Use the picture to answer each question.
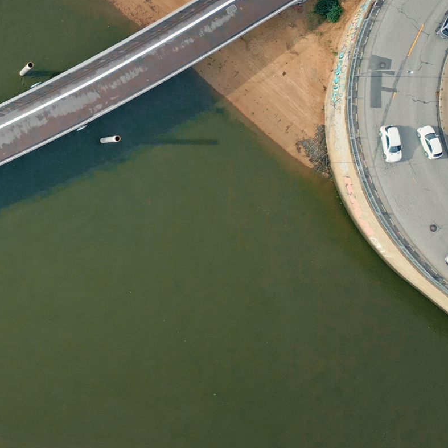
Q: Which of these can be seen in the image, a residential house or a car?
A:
car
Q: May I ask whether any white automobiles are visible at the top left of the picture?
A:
No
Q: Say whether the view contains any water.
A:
Yes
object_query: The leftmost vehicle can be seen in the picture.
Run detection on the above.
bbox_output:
[380,124,405,164]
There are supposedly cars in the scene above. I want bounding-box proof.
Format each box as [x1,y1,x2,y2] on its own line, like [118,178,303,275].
[418,123,447,161]
[380,124,405,164]
[437,10,448,42]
